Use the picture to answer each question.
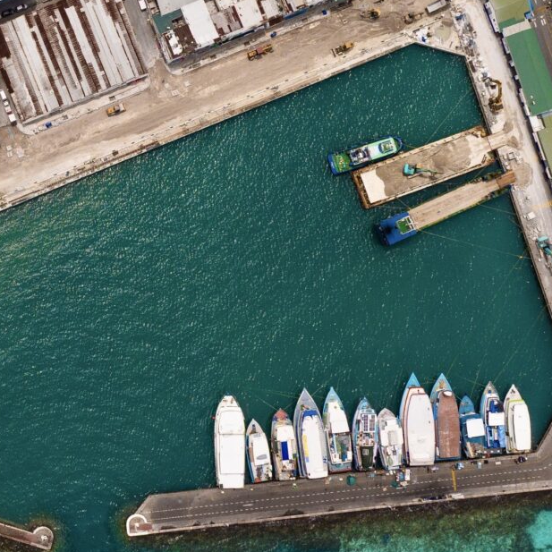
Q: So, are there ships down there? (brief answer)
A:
Yes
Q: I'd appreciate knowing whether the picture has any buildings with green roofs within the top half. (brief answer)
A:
Yes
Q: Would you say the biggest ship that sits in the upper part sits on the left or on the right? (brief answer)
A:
right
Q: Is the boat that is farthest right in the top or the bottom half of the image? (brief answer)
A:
bottom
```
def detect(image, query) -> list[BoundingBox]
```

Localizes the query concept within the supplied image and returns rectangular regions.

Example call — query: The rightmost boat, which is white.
[501,384,534,454]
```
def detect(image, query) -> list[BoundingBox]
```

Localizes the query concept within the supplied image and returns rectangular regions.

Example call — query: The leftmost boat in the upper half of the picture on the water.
[326,136,405,175]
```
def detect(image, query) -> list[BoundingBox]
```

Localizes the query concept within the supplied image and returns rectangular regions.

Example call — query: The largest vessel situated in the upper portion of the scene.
[350,124,520,208]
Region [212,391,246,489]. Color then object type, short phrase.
white boat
